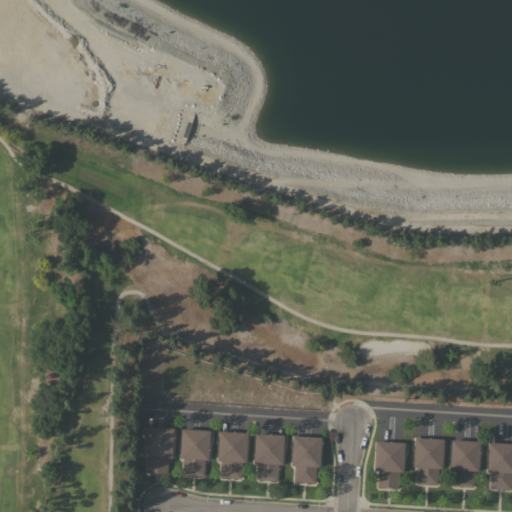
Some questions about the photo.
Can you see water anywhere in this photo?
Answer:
Yes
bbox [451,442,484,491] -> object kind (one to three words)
house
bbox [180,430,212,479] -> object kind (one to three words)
house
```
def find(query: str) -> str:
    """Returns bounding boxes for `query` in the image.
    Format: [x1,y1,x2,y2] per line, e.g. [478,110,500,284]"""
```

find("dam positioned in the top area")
[92,0,512,217]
